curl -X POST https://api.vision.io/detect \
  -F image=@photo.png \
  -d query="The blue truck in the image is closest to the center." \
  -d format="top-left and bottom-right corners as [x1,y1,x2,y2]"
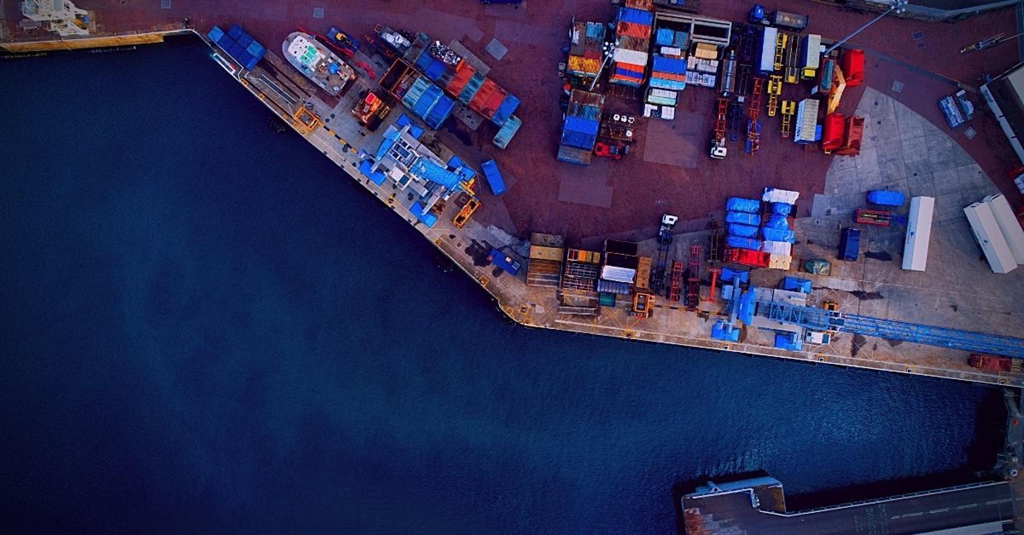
[486,247,523,277]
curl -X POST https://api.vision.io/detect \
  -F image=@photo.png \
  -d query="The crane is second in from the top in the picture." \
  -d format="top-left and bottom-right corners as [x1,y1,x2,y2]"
[358,113,477,229]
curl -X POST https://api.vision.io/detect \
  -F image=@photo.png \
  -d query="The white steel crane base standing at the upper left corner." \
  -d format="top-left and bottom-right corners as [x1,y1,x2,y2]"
[22,0,98,41]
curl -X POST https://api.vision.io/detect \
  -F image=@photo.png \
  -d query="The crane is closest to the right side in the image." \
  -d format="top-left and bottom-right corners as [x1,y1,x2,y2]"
[710,266,1024,360]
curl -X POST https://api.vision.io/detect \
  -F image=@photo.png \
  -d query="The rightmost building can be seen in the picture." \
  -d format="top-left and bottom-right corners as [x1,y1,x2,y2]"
[973,70,1024,169]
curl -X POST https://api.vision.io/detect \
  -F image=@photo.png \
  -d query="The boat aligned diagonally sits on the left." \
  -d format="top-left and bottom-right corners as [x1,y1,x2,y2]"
[282,31,356,95]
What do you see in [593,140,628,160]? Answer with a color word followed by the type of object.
red vehicle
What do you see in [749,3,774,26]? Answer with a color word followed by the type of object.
blue truck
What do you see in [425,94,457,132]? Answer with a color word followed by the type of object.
blue shipping container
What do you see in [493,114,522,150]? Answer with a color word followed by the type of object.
blue shipping container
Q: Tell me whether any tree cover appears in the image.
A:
No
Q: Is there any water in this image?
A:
Yes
